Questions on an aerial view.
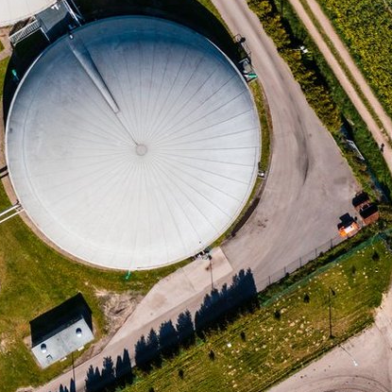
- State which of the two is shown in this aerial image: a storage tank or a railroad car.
storage tank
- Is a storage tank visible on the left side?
Yes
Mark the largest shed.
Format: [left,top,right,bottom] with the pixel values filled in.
[30,314,94,368]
